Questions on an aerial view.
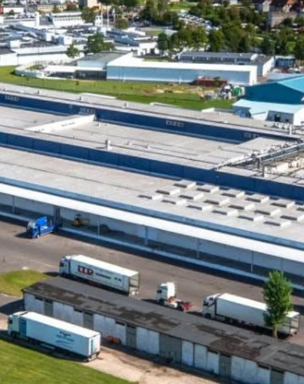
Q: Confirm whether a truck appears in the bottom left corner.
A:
Yes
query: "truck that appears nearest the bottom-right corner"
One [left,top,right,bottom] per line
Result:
[203,296,300,335]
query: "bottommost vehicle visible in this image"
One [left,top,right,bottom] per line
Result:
[8,316,99,358]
